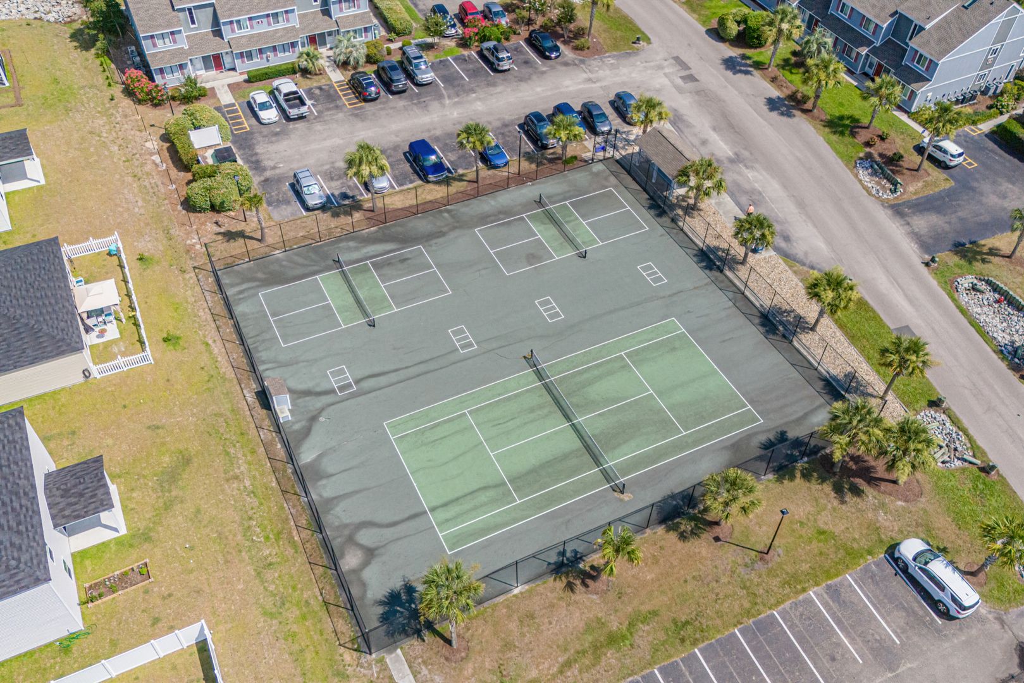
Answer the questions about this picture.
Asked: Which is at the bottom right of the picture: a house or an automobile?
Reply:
automobile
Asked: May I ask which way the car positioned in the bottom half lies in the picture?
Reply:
at an angle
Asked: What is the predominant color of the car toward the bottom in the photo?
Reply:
white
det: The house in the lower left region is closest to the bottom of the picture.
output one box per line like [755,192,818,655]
[0,409,133,660]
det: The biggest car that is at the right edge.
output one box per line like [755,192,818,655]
[891,539,982,617]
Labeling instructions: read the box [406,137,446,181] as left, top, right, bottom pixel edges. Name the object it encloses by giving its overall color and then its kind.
blue car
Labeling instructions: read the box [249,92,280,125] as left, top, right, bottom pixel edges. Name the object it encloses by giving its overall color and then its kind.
white car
